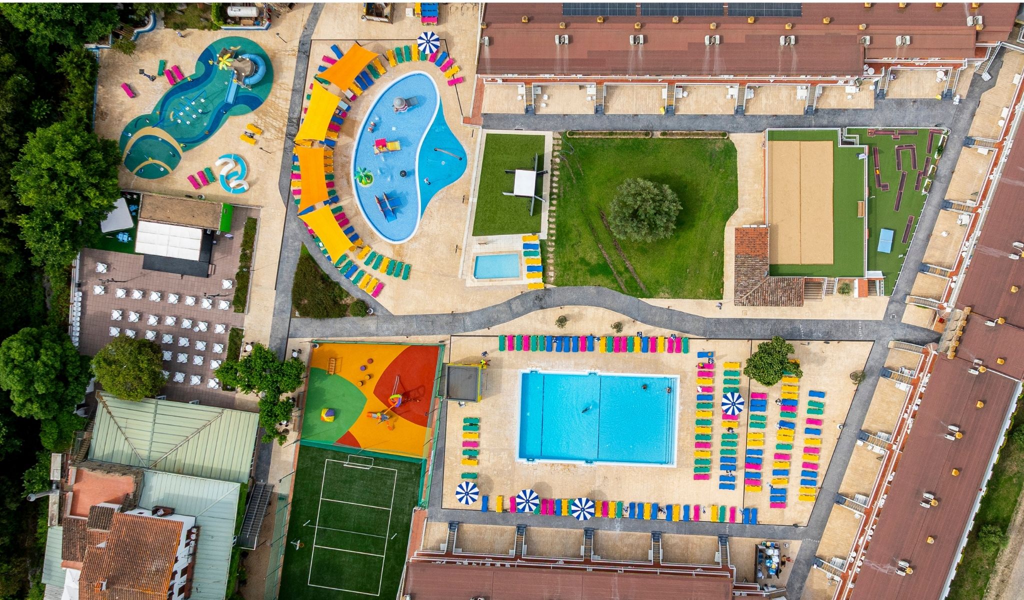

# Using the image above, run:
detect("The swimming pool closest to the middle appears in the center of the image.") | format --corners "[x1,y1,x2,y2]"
[472,251,523,282]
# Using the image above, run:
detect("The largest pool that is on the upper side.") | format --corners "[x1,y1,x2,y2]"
[351,70,468,244]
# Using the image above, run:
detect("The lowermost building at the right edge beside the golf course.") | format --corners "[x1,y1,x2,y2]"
[814,339,1024,600]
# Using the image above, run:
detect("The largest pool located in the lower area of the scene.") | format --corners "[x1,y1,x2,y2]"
[515,367,680,468]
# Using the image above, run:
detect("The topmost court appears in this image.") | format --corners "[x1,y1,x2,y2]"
[763,129,867,278]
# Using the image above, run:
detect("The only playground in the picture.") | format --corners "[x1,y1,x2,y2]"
[298,342,443,459]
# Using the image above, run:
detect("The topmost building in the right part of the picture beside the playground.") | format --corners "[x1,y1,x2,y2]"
[462,0,1021,278]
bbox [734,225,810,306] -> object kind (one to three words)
building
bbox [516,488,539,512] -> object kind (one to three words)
umbrella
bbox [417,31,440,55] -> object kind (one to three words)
umbrella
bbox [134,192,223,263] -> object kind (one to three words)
building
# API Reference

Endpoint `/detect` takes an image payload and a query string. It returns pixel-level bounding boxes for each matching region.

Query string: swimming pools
[472,251,523,282]
[351,70,468,244]
[515,367,680,468]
